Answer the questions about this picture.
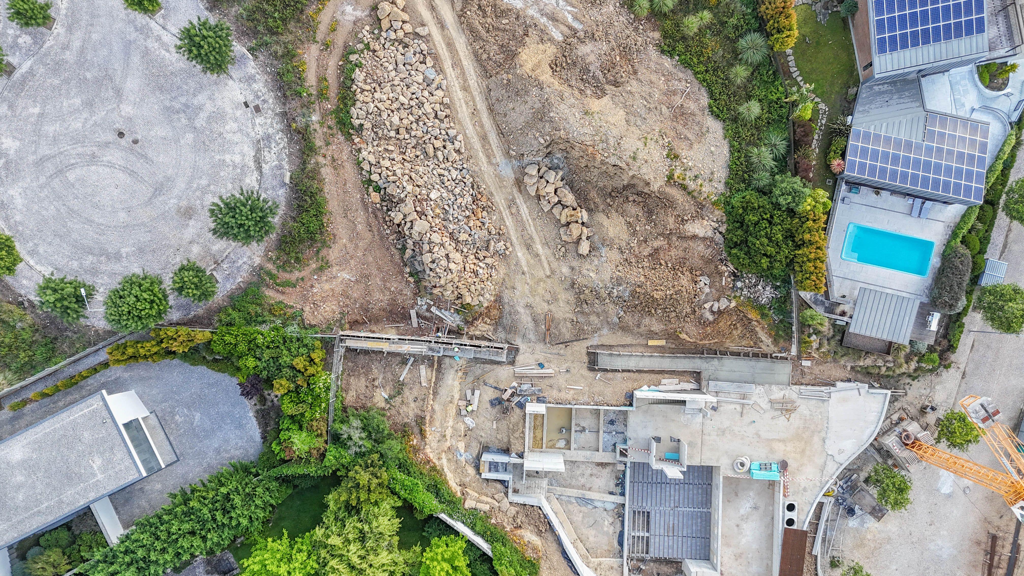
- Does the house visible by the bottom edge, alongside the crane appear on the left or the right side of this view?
right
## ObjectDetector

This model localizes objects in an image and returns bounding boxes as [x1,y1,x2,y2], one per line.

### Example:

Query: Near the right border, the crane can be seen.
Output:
[904,394,1024,524]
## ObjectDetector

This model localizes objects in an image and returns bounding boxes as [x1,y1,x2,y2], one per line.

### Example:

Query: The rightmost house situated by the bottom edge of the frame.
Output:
[480,383,891,576]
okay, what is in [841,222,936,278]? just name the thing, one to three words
swimming pool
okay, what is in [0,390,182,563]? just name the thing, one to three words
house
